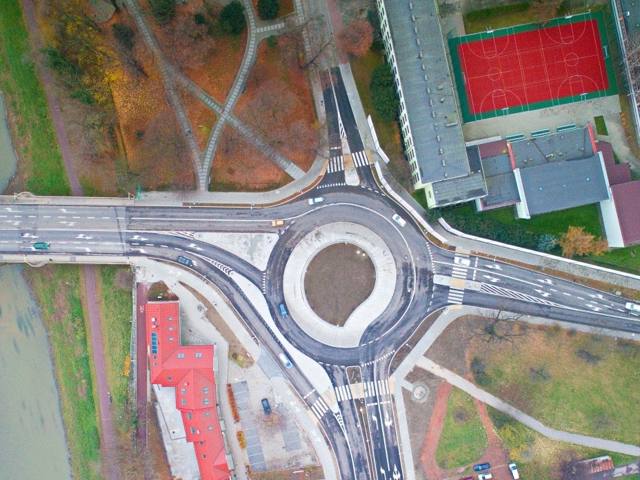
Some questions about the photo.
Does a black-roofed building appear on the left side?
No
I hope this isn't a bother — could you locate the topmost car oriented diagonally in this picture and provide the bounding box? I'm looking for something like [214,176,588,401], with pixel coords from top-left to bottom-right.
[393,214,406,229]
